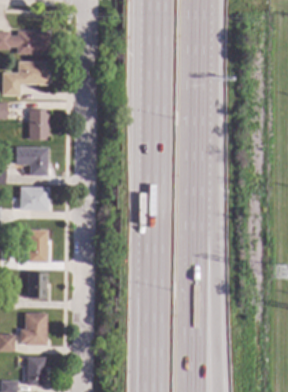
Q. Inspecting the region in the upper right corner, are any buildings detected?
No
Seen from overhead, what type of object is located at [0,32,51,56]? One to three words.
house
